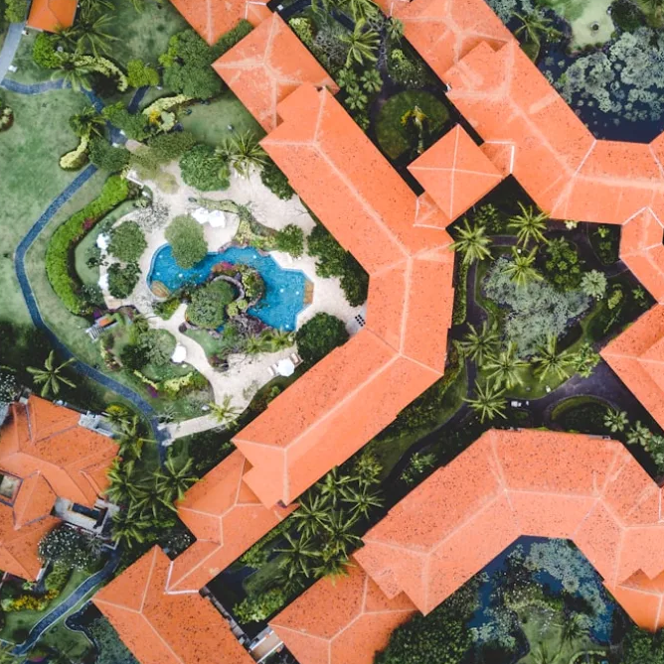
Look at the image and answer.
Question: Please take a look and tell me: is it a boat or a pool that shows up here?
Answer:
pool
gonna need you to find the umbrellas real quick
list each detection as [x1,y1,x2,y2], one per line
[194,207,210,223]
[210,211,226,227]
[96,235,111,249]
[97,274,111,288]
[278,359,294,376]
[173,345,189,361]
